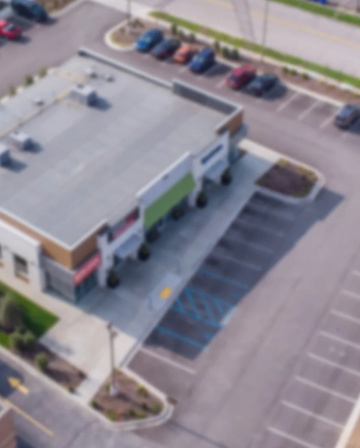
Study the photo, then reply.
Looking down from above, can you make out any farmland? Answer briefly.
No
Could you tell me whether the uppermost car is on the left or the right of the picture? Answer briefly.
left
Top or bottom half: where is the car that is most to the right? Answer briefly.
top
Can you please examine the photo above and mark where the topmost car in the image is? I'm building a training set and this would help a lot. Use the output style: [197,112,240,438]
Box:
[13,0,48,22]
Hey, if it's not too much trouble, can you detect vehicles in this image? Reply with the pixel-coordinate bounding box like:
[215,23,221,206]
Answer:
[13,0,48,22]
[224,66,260,91]
[170,43,199,68]
[246,74,281,99]
[185,46,219,75]
[0,22,22,43]
[331,104,360,133]
[149,41,184,63]
[134,27,167,55]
